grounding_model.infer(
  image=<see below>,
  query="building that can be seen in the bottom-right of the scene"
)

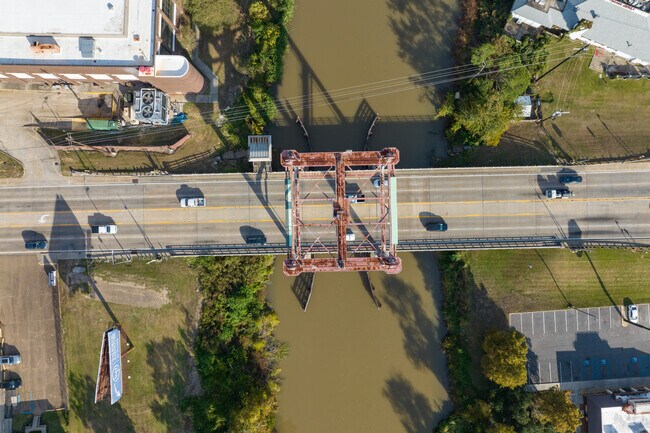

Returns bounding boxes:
[584,379,650,433]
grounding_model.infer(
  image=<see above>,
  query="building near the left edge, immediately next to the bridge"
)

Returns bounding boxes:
[0,0,204,92]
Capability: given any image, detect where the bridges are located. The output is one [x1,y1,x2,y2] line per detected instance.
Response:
[161,147,560,277]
